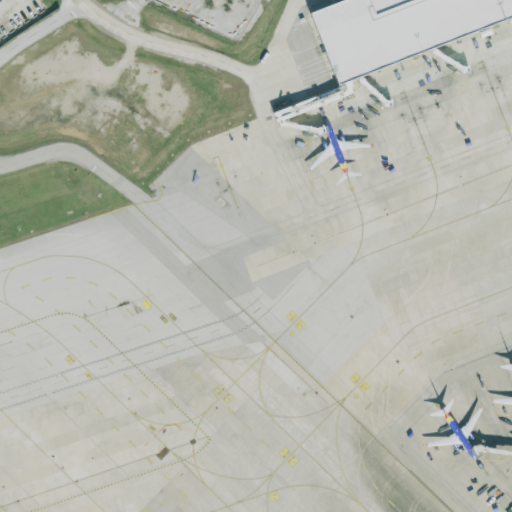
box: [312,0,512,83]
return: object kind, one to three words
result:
building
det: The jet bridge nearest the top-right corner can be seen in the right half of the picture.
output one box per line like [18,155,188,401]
[432,50,472,74]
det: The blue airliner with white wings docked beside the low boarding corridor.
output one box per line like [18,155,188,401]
[310,120,373,184]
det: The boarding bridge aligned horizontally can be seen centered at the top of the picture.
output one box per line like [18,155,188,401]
[278,120,328,134]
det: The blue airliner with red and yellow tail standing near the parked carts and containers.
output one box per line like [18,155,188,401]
[426,400,482,458]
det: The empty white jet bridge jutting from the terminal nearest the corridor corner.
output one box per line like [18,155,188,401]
[360,78,396,108]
